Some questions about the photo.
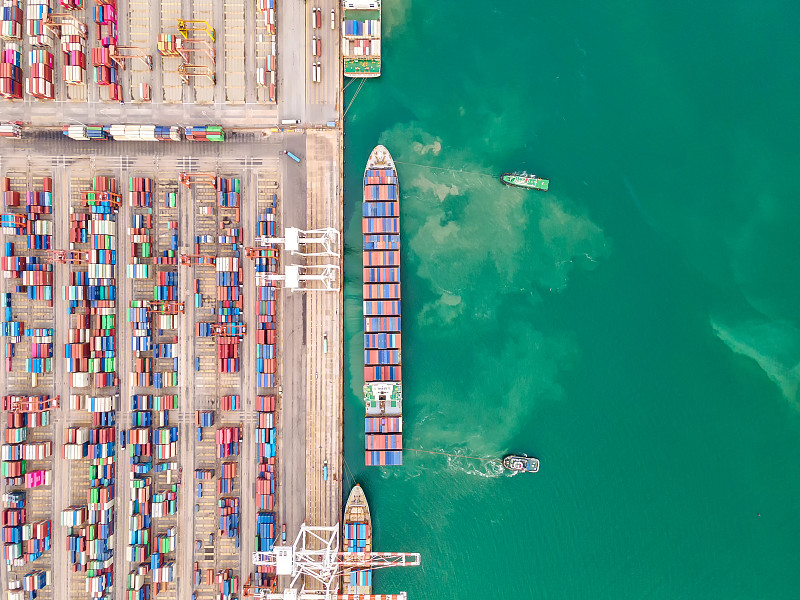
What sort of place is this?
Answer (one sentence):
This looks like a port.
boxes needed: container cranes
[178,255,216,270]
[42,13,88,40]
[251,516,420,588]
[210,321,248,336]
[78,191,123,208]
[255,557,399,600]
[178,173,216,191]
[108,46,152,71]
[175,39,216,64]
[242,571,278,596]
[146,300,186,314]
[45,250,90,265]
[176,65,216,88]
[255,262,340,297]
[176,20,216,45]
[255,227,340,262]
[10,395,60,412]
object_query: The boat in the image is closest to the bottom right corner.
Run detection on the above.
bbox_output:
[503,455,541,474]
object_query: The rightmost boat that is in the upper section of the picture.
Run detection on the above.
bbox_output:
[501,172,552,191]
